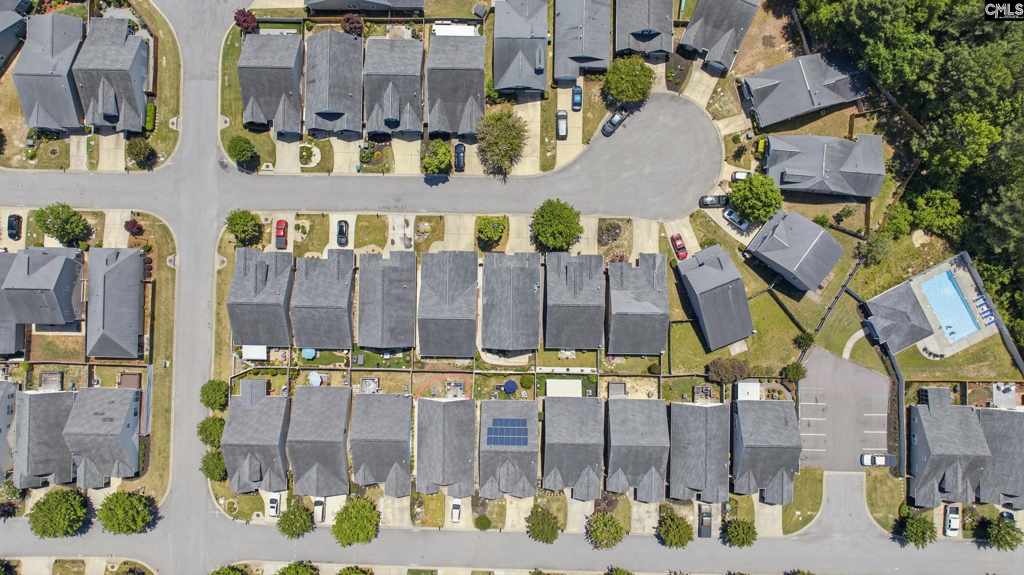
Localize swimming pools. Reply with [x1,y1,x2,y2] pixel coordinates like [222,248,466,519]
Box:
[910,258,998,360]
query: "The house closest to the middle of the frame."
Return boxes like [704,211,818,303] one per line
[482,253,542,349]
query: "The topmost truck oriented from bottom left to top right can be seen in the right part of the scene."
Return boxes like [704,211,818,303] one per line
[602,107,629,136]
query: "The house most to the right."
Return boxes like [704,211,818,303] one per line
[975,407,1024,512]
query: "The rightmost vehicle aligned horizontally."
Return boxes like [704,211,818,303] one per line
[861,454,892,467]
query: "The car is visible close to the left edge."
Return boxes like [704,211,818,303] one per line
[9,217,23,239]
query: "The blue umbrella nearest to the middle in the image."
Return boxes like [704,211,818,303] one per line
[504,379,517,393]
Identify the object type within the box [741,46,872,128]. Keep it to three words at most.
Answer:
house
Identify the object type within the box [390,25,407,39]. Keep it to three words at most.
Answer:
gazebo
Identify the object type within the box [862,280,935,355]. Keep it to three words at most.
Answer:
building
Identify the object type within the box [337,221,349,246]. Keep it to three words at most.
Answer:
vehicle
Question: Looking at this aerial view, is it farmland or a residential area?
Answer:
residential area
